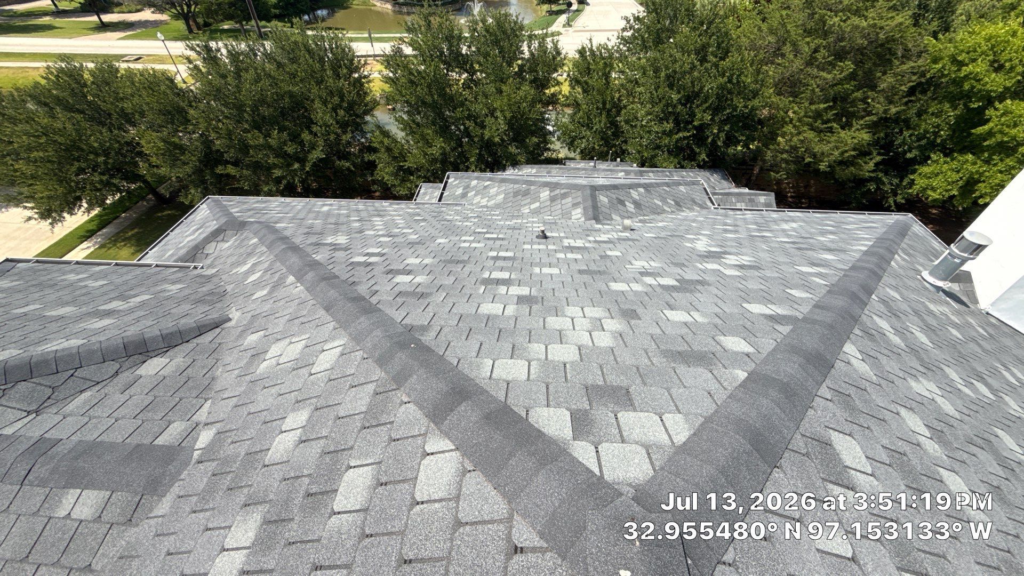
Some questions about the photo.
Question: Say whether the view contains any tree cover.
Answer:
Yes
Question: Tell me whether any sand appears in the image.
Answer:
No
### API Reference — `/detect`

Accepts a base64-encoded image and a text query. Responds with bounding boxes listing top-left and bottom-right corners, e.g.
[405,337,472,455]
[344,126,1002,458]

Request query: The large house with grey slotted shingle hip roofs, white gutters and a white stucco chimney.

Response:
[0,148,1024,576]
